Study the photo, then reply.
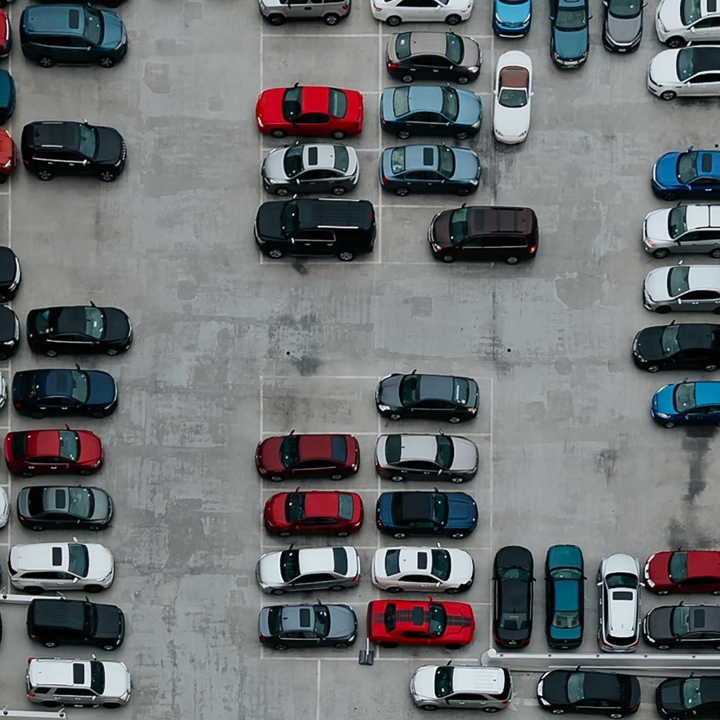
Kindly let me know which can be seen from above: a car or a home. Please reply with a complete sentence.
This aerial view contains a car.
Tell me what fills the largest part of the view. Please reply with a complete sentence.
Most of the picture is covered by paved ground.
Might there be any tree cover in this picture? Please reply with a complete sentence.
No, there is no tree cover in the image.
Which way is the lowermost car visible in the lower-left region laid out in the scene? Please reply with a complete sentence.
From this overhead view, the lowermost car visible in the lower-left region appears to run from left to right.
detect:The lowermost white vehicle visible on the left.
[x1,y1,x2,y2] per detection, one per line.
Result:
[24,651,132,707]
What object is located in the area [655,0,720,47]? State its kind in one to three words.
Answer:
car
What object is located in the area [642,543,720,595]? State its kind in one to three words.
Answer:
car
